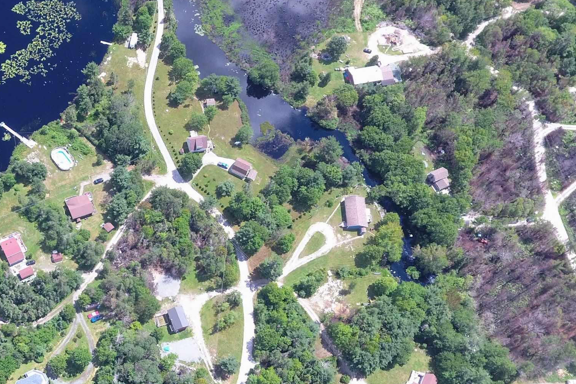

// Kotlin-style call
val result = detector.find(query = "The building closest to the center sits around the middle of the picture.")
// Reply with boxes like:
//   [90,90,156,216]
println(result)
[230,159,258,181]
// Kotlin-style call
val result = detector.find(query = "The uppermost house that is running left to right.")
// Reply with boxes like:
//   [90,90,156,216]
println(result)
[346,64,394,86]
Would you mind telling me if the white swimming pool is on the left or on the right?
left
